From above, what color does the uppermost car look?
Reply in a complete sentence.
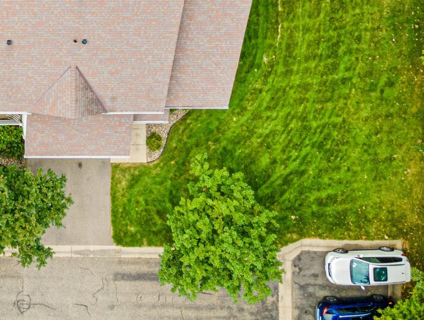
The uppermost car is white.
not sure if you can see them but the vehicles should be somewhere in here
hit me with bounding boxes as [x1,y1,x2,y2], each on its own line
[321,243,415,290]
[314,290,407,320]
